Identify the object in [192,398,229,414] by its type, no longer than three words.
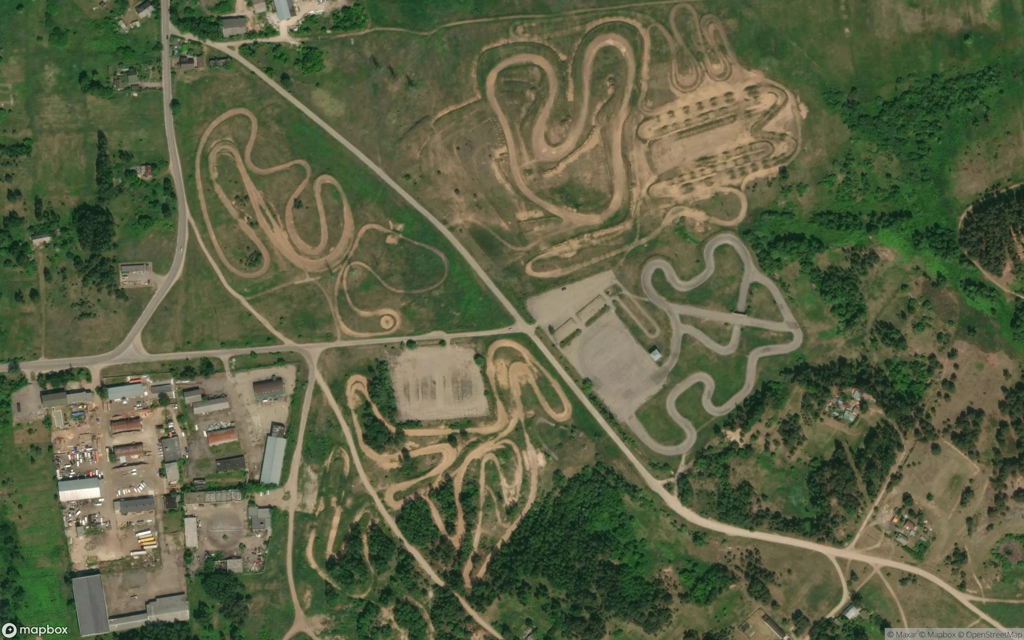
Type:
barn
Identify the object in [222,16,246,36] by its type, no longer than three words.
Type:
house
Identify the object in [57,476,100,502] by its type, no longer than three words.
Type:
building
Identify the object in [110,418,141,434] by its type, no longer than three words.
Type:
shed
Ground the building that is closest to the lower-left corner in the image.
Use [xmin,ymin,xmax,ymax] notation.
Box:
[71,574,109,637]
